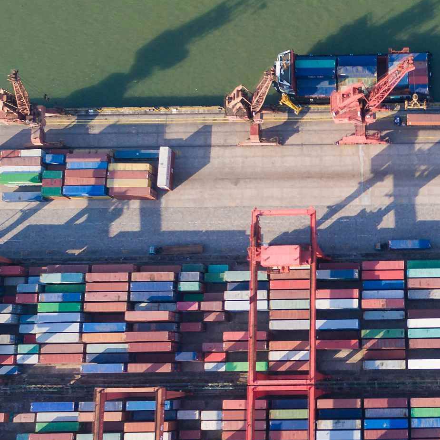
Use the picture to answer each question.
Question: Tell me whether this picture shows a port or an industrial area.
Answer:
port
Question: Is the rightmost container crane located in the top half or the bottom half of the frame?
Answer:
top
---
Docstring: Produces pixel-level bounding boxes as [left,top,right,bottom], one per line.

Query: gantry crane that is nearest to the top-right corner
[327,56,439,145]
